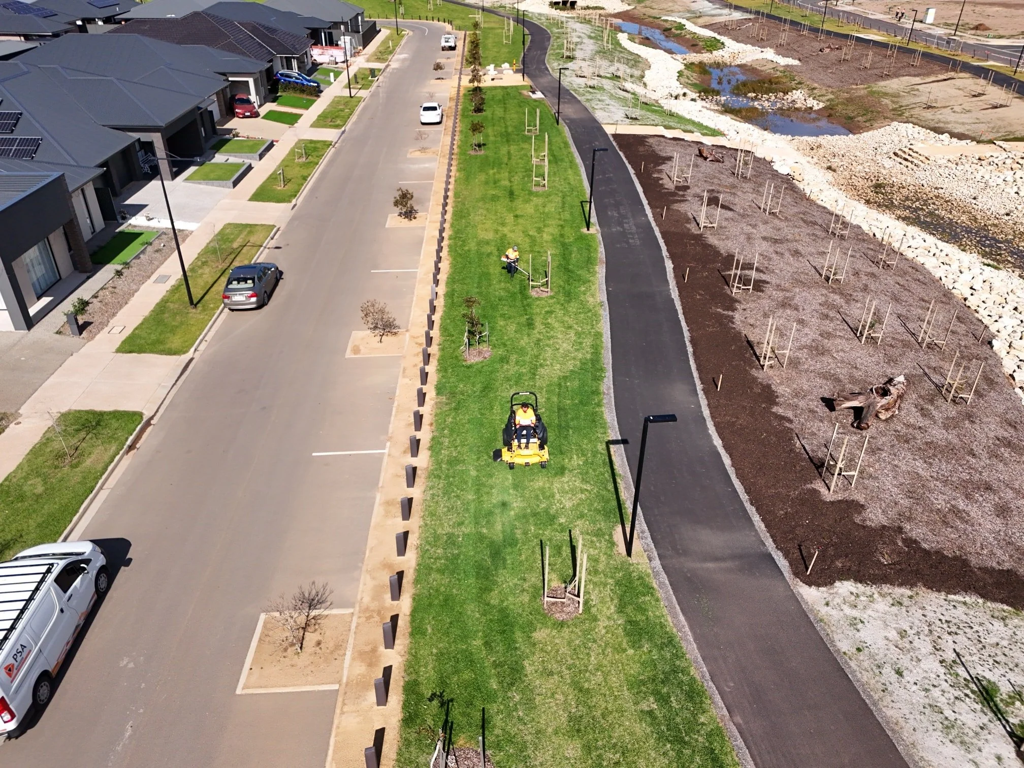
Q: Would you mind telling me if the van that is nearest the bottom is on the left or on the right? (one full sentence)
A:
It is on the left.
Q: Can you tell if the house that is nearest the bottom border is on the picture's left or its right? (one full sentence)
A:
The house that is nearest the bottom border appears in the left half of the scene.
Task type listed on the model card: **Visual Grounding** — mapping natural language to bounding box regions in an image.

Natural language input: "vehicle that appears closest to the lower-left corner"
[0,545,107,738]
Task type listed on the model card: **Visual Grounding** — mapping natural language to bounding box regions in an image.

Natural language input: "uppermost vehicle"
[440,30,460,48]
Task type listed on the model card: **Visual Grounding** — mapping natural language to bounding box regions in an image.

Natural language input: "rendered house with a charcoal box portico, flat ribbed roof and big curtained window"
[0,156,108,329]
